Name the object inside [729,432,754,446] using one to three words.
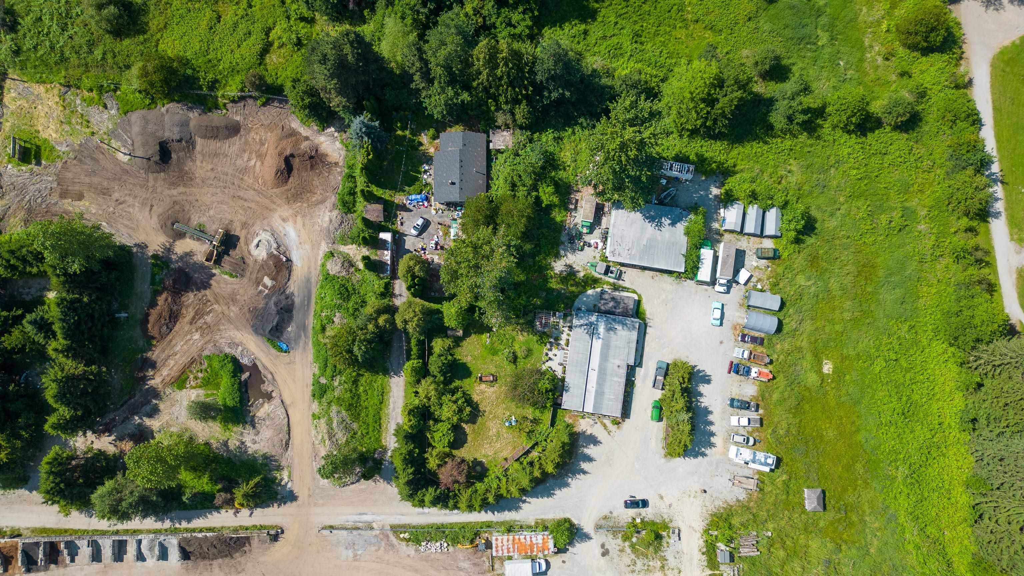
car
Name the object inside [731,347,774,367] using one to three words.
vehicle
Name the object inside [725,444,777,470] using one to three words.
camper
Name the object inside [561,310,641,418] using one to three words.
building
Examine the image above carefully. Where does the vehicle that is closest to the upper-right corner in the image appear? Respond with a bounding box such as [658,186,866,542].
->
[754,247,780,260]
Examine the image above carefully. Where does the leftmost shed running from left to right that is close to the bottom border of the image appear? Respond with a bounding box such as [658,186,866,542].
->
[492,531,554,556]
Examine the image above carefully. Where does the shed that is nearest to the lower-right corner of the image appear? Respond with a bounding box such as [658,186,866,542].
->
[801,485,822,510]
